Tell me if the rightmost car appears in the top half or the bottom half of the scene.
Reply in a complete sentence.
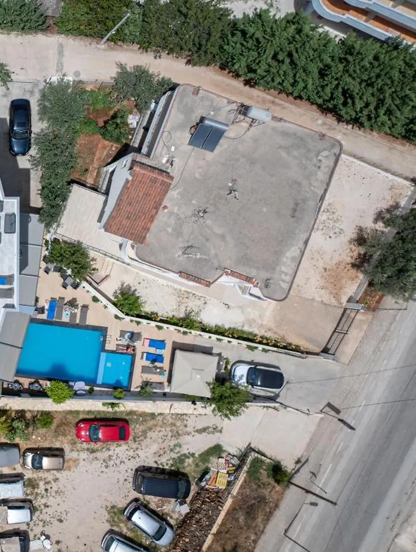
The rightmost car sits in the bottom half of the picture.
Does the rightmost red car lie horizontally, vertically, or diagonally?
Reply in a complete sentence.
What the image shows is the rightmost red car lying horizontally.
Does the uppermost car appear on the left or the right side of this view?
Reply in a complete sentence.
The uppermost car is on the left side of the image.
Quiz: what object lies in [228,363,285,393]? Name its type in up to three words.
car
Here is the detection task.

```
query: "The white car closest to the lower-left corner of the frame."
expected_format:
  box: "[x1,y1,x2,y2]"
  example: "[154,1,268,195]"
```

[0,502,34,526]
